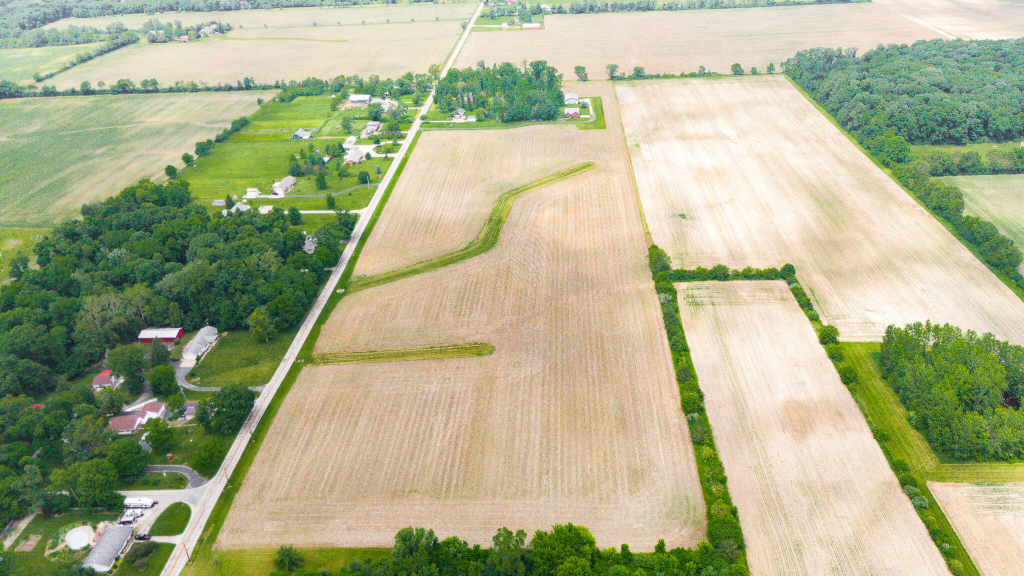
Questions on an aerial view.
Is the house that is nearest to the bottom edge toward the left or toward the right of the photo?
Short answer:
left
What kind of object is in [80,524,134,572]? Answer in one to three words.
house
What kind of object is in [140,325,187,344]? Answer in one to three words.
barn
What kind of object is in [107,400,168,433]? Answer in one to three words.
house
